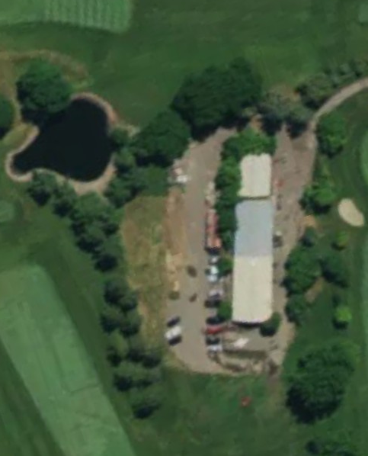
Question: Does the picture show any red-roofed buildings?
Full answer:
No, this view has no red-roofed building in it.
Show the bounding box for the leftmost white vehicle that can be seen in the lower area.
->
[164,325,181,338]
